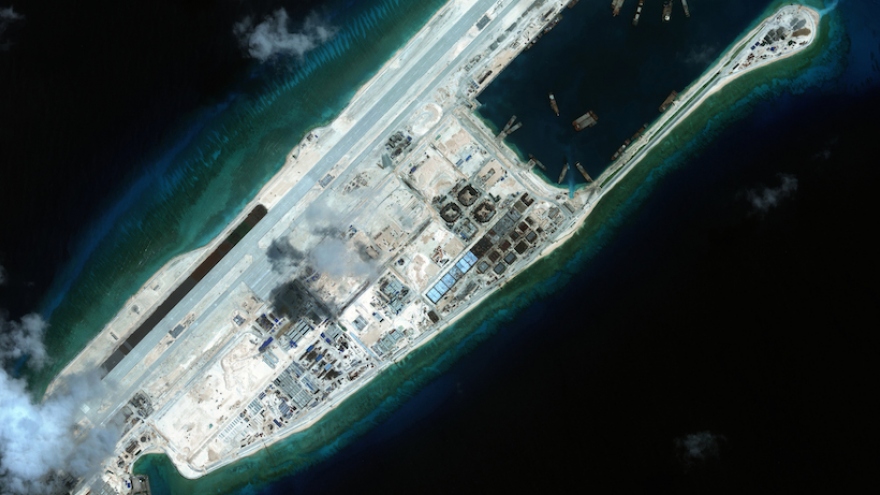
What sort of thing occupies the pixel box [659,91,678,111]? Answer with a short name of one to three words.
ship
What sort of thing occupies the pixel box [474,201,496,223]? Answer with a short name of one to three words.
building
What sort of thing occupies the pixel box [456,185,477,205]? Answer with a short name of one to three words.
building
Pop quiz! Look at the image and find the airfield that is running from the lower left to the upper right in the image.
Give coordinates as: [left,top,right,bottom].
[54,0,522,442]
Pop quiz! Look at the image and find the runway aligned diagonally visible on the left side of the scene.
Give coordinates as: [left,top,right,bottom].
[54,0,498,435]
